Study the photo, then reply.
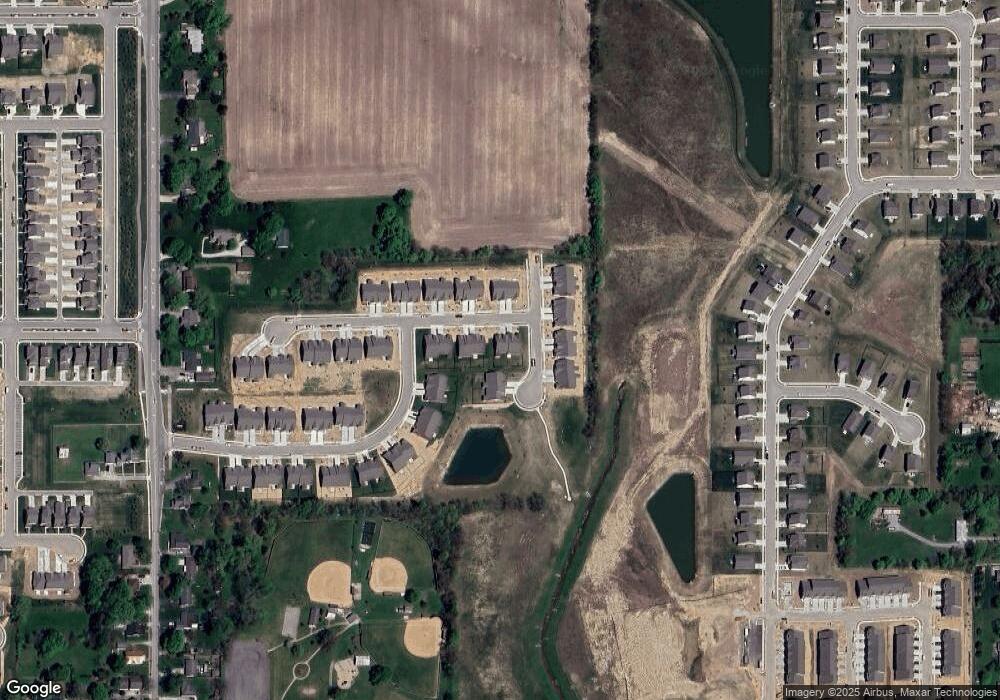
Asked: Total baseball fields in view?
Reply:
3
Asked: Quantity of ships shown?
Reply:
0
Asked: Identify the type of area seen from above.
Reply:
residential area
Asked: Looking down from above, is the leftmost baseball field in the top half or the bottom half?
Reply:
bottom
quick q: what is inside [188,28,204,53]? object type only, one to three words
house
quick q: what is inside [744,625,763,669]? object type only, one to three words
building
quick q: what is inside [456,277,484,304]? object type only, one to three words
house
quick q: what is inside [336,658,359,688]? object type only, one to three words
playground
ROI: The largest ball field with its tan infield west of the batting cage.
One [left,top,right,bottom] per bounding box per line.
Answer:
[266,517,354,607]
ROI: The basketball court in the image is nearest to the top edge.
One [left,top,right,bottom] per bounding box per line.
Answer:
[282,606,299,638]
